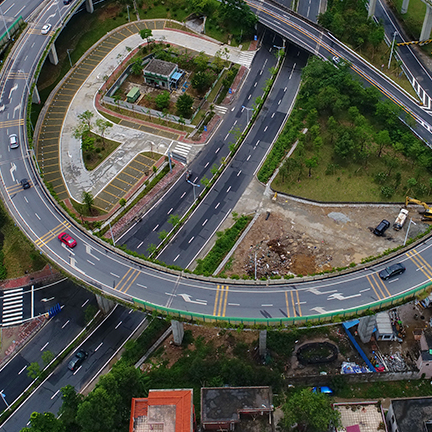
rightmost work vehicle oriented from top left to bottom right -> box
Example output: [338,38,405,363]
[404,199,432,220]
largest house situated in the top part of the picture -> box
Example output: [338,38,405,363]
[143,59,178,90]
